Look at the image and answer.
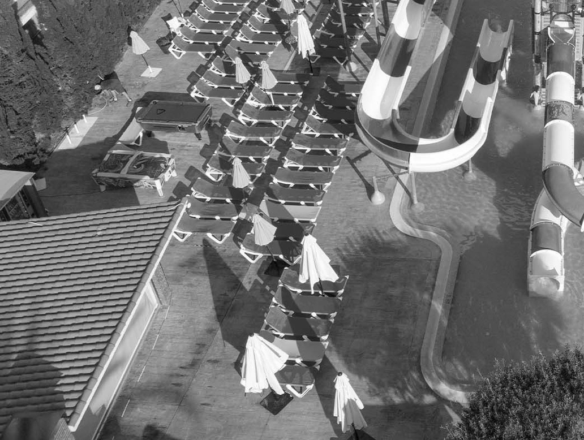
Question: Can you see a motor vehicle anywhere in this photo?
No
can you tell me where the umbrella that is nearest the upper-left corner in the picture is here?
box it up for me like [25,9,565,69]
[132,32,151,70]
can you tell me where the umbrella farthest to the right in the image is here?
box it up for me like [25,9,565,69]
[330,372,374,440]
